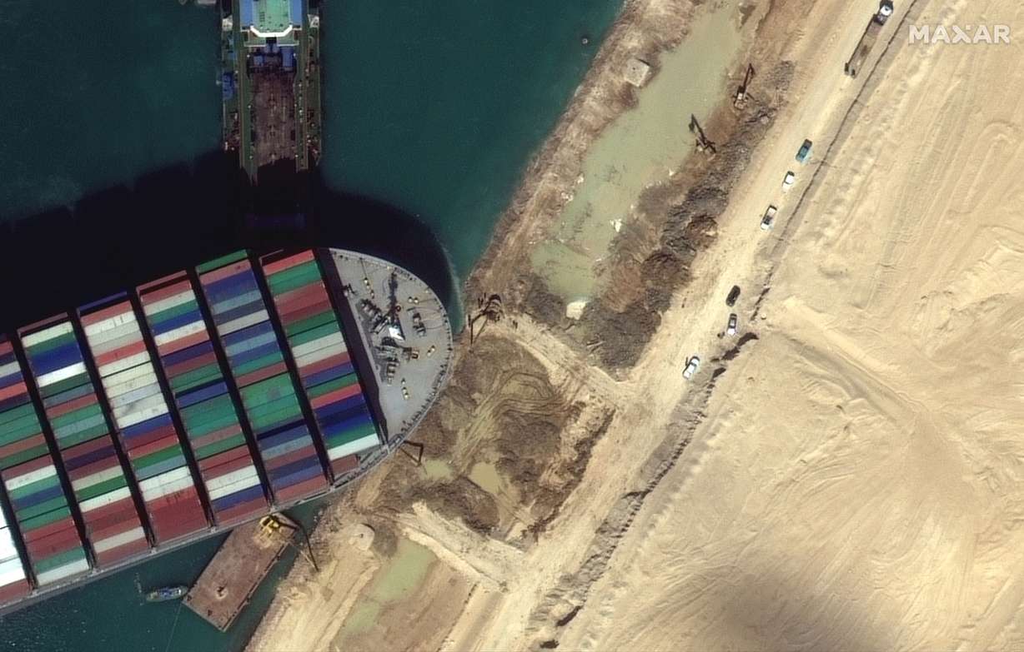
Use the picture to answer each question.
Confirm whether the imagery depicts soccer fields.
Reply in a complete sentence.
No, the scene contains no soccer field.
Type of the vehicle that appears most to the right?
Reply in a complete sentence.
The vehicle that appears most to the right in the image is a truck.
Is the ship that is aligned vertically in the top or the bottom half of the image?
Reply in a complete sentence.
The ship that is aligned vertically is in the top half of the image.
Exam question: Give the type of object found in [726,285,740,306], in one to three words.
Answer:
car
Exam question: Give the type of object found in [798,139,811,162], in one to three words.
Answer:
vehicle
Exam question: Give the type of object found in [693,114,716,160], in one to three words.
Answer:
work vehicle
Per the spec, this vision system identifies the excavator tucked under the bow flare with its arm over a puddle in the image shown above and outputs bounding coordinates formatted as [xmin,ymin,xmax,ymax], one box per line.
[393,441,424,468]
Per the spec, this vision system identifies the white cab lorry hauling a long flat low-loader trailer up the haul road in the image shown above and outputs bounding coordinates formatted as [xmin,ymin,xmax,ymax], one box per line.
[845,3,893,77]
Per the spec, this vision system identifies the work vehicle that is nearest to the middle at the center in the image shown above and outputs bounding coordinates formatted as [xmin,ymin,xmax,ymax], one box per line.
[469,290,508,346]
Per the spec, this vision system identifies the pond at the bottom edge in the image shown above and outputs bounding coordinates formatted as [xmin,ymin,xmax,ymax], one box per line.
[334,537,436,652]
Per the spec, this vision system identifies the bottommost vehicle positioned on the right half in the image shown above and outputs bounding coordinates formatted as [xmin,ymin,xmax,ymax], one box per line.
[684,356,699,378]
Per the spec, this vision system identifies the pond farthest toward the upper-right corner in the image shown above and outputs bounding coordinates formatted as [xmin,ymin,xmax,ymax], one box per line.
[530,0,750,302]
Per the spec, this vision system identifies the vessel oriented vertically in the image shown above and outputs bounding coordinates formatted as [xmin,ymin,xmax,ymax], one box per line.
[217,0,321,243]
